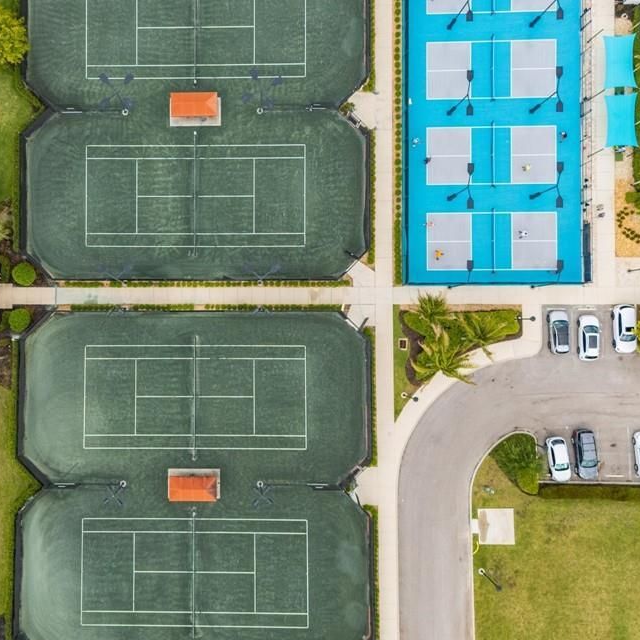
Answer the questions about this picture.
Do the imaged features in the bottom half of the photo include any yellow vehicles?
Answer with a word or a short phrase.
No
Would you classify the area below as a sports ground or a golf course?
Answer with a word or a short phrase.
sports ground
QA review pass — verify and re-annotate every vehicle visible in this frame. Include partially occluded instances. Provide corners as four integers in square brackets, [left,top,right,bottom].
[610,306,636,352]
[571,430,598,477]
[631,431,640,477]
[545,310,571,353]
[575,316,600,359]
[544,436,570,480]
